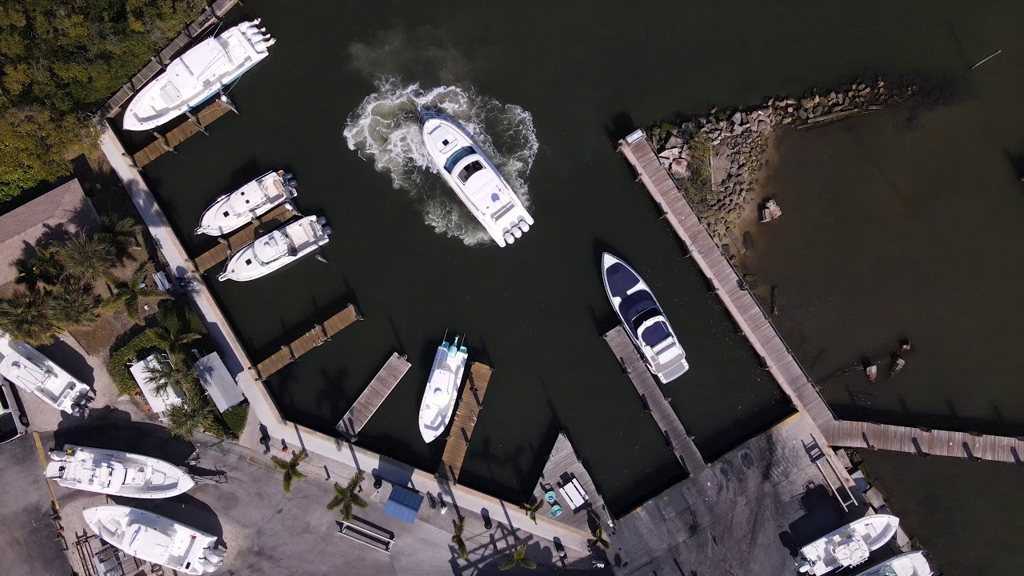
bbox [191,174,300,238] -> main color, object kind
white boat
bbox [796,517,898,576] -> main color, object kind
white boat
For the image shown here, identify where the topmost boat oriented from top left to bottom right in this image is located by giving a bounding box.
[421,114,538,254]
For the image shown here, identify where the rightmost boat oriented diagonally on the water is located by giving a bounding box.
[602,255,687,384]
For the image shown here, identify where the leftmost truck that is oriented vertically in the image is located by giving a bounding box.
[0,374,31,444]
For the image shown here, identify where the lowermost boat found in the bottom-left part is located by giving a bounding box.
[83,503,239,574]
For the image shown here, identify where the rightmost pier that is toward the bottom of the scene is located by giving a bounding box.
[808,417,1024,464]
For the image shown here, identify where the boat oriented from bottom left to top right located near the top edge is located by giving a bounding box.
[124,15,275,131]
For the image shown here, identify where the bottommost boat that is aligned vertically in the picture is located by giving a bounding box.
[422,333,469,441]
